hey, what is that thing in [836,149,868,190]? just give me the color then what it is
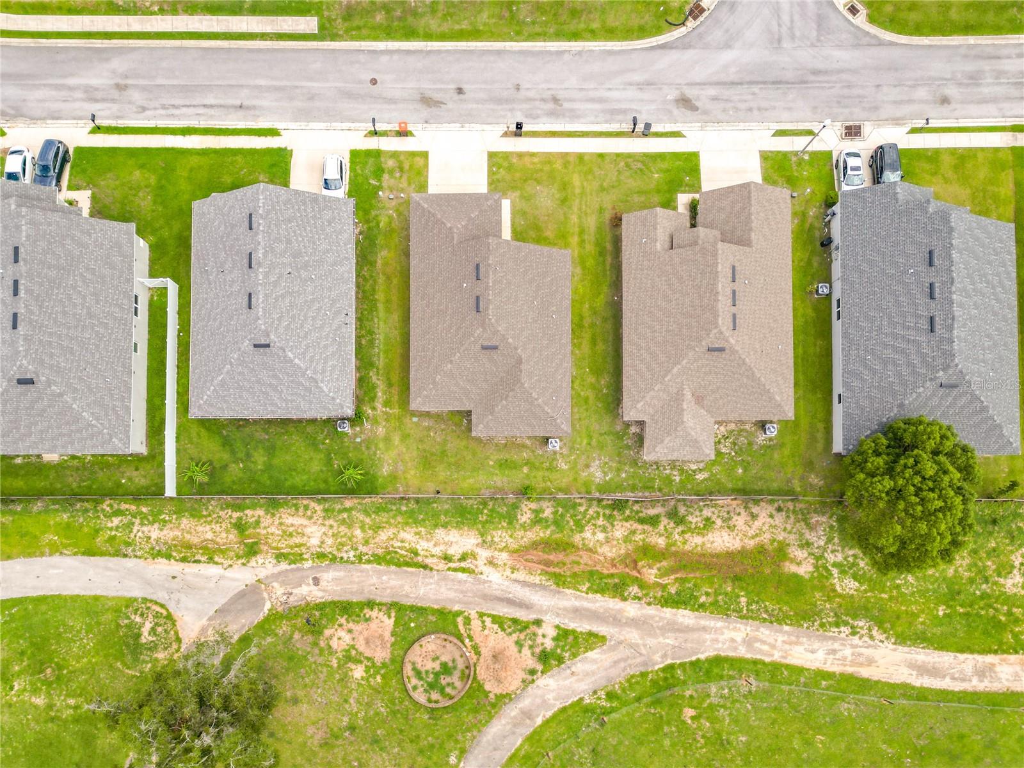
white car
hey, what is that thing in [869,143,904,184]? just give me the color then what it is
gray car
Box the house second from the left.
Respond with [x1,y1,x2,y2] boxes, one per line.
[187,183,357,420]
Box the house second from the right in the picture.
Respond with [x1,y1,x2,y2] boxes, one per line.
[622,183,795,461]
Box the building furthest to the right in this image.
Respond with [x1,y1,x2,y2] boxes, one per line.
[829,181,1021,456]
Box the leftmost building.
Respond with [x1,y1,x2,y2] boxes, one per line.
[0,180,148,455]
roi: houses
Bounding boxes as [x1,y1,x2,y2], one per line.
[0,180,148,455]
[187,183,357,420]
[622,183,795,461]
[409,192,571,438]
[829,181,1021,456]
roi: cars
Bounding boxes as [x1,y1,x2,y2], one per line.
[869,143,904,184]
[836,149,868,190]
[1,146,36,184]
[31,139,72,195]
[322,153,350,198]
